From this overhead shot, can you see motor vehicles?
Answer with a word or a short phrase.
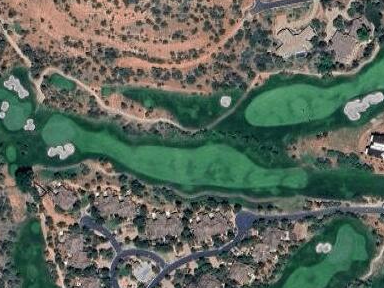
No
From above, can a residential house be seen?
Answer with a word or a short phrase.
Yes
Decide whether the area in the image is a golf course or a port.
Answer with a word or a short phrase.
golf course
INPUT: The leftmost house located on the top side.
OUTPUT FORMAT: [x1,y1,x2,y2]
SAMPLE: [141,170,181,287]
[277,26,316,57]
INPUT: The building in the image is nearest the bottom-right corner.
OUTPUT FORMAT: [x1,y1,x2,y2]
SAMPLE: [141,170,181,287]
[285,217,312,243]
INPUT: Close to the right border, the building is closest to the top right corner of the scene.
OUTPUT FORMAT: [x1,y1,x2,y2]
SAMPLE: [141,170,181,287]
[328,15,375,62]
